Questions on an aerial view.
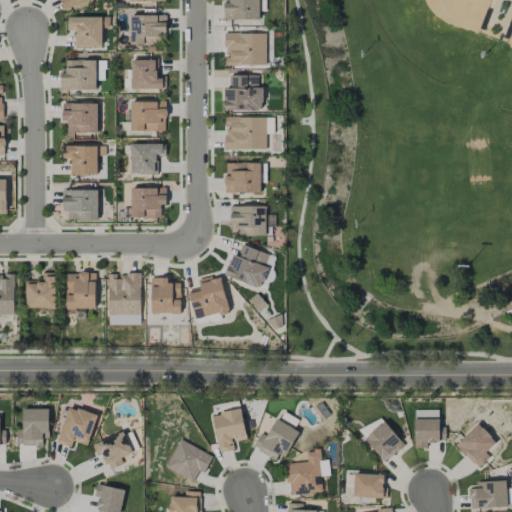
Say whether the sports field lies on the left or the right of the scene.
right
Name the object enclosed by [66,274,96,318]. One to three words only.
house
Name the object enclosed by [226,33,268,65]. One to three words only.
house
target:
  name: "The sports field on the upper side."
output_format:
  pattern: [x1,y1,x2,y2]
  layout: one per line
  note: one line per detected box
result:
[343,0,512,314]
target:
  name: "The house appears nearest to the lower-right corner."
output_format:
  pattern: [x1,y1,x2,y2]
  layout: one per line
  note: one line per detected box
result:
[472,482,512,510]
